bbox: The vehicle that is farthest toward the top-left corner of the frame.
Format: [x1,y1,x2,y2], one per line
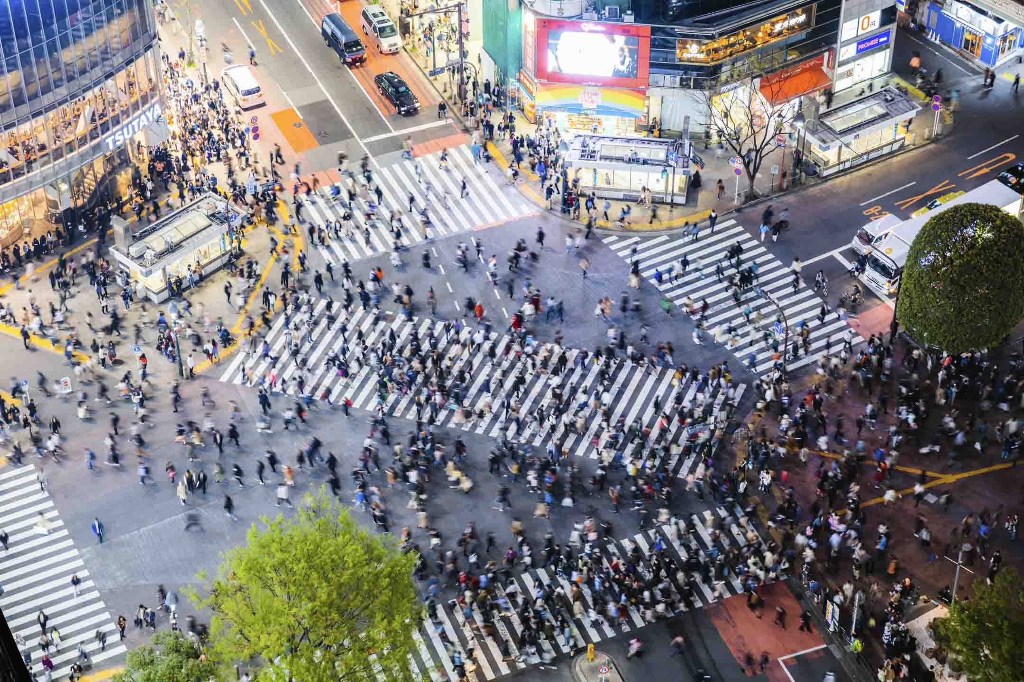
[223,67,266,109]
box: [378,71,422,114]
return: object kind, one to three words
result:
car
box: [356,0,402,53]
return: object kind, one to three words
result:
van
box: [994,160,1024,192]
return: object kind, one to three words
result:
car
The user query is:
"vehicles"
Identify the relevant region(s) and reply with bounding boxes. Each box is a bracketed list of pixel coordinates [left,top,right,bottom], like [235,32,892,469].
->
[908,193,967,221]
[378,71,422,114]
[856,214,909,257]
[994,160,1024,192]
[356,0,402,53]
[847,262,864,281]
[319,7,367,67]
[223,67,266,109]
